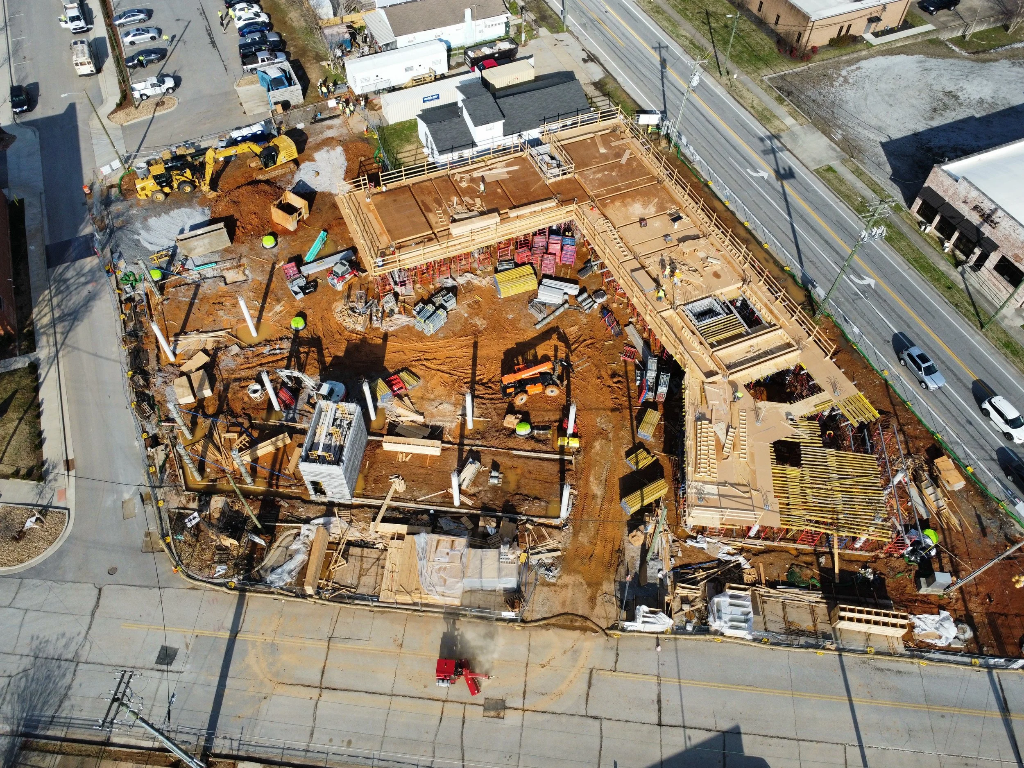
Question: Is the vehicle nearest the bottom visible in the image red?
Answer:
Yes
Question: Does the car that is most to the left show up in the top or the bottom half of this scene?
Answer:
top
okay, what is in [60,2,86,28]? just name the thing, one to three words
truck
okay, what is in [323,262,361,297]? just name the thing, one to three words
work vehicle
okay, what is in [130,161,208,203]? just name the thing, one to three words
work vehicle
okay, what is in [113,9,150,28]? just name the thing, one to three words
car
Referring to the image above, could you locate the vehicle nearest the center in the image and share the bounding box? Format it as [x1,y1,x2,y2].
[495,349,591,405]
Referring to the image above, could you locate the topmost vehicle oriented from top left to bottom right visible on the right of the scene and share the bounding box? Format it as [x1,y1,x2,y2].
[894,344,949,390]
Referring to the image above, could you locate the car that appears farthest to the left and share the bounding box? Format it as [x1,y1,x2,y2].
[8,83,31,111]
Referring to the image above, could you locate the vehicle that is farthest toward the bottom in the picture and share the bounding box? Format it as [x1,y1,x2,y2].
[428,655,494,697]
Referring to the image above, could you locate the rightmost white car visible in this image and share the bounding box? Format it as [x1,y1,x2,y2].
[975,398,1024,450]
